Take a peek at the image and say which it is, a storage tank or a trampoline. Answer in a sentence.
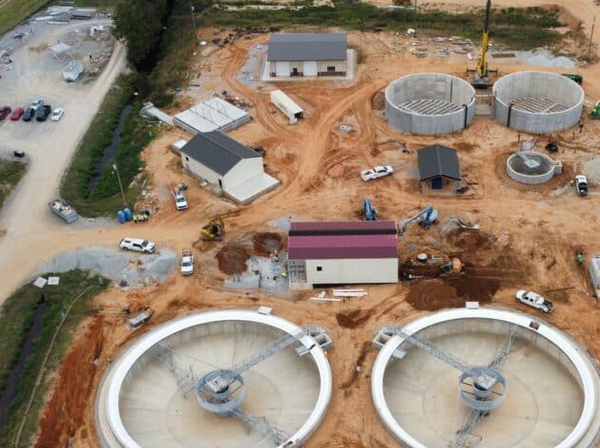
Visible in the photo is a storage tank.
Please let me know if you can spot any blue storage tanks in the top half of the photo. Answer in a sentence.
No, the scene shows no blue storage tank in the top half of the photo.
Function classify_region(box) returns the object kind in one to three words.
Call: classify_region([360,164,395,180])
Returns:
vehicle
